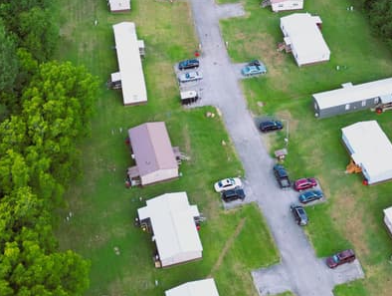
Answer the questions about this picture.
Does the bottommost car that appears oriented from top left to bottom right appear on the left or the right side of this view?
right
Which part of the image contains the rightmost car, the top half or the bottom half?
bottom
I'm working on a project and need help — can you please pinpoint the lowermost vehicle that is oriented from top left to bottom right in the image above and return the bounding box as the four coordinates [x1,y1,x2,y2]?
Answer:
[287,200,309,228]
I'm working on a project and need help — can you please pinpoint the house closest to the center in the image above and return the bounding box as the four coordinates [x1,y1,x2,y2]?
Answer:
[126,122,187,188]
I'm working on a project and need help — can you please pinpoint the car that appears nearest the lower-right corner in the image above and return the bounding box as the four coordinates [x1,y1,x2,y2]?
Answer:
[326,248,356,269]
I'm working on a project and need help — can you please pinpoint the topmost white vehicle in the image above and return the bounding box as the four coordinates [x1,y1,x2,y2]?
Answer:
[177,70,206,84]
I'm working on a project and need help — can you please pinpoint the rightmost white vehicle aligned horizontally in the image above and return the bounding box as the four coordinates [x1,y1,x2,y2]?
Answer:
[213,176,242,192]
